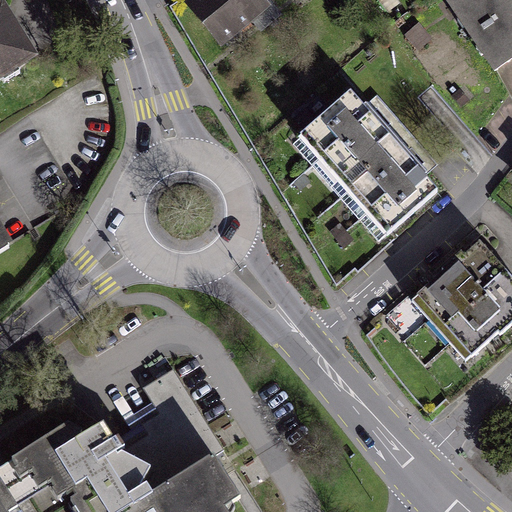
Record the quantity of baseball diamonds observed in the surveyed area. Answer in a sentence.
There are no baseball diamonds in the image.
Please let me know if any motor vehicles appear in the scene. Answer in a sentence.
Yes, this view includes a motor vehicle.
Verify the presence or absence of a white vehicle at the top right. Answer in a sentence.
No, I see no white vehicle at the top right.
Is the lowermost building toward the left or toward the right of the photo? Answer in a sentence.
The lowermost building appears in the left half of the scene.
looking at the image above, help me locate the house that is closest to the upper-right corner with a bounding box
[444,0,512,70]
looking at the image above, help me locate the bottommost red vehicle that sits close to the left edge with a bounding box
[6,220,24,236]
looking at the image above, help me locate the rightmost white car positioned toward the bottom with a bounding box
[369,299,388,316]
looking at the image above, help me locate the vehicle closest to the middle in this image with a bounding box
[222,220,240,241]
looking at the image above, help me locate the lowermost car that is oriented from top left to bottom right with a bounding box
[358,425,376,448]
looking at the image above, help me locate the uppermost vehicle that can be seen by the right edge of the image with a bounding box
[479,128,500,148]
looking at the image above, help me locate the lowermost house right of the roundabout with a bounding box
[385,240,512,361]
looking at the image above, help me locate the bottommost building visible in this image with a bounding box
[0,370,242,512]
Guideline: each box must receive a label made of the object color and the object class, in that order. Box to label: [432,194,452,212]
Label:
blue car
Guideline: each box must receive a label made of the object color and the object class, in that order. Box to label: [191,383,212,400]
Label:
white car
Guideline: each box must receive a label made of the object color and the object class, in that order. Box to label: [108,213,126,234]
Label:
white car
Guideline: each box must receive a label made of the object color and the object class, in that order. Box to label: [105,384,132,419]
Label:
white truck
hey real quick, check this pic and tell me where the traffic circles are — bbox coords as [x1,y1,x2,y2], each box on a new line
[110,137,261,287]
